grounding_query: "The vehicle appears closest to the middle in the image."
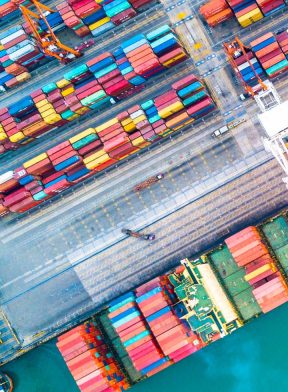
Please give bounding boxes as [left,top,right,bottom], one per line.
[131,172,161,192]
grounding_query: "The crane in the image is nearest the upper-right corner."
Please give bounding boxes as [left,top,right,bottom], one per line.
[218,28,270,100]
